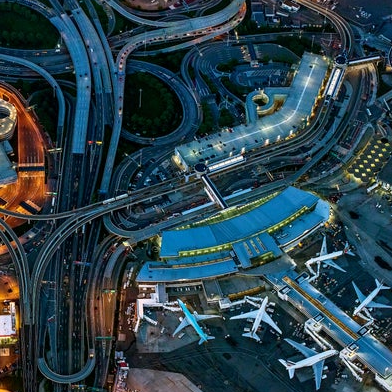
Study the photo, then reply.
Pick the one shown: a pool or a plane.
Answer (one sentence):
Visible in the photo is a plane.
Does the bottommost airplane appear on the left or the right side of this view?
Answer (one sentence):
The bottommost airplane sits on the right side.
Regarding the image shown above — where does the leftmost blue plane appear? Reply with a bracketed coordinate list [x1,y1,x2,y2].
[176,300,217,345]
